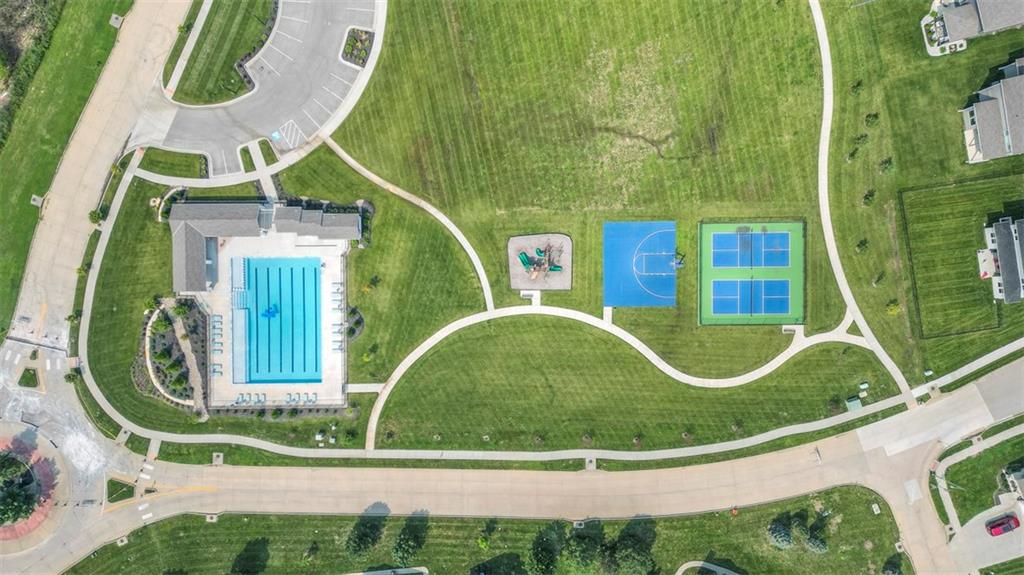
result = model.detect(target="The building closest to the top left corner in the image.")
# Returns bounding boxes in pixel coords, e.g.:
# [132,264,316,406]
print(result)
[167,204,264,292]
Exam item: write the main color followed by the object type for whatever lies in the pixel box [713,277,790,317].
blue sports court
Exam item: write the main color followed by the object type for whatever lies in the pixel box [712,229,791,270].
blue sports court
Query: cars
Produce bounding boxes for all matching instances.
[987,515,1020,535]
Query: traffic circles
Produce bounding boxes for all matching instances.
[0,420,72,557]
